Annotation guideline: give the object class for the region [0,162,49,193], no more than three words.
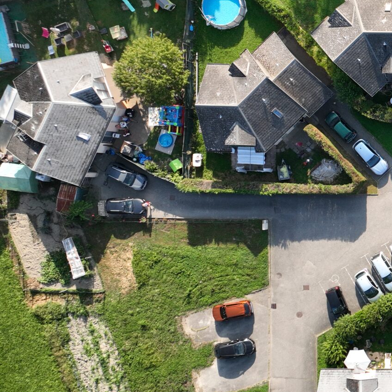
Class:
tent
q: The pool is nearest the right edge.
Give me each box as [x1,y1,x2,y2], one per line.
[201,0,250,30]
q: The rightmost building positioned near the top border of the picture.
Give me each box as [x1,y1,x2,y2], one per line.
[310,0,392,98]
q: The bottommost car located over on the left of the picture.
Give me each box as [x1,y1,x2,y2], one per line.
[105,197,148,217]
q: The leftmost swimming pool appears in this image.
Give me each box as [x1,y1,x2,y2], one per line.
[0,10,29,72]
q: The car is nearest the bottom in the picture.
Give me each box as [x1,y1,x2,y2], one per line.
[214,338,257,360]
